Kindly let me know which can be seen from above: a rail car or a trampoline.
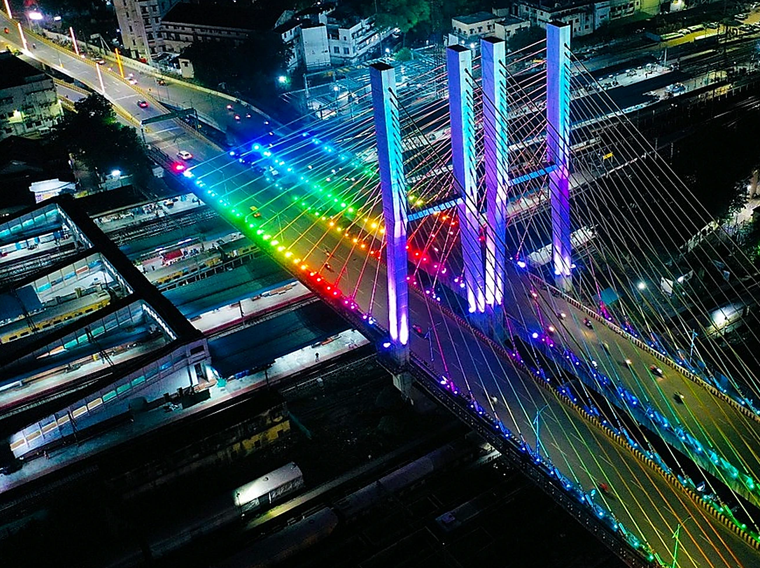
rail car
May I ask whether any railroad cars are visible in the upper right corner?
Yes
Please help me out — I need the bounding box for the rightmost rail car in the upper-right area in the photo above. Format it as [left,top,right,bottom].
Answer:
[688,82,743,108]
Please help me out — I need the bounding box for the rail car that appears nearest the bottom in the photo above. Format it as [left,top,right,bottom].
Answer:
[188,499,325,568]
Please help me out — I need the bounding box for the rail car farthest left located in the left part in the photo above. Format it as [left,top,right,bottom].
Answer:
[0,291,103,344]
